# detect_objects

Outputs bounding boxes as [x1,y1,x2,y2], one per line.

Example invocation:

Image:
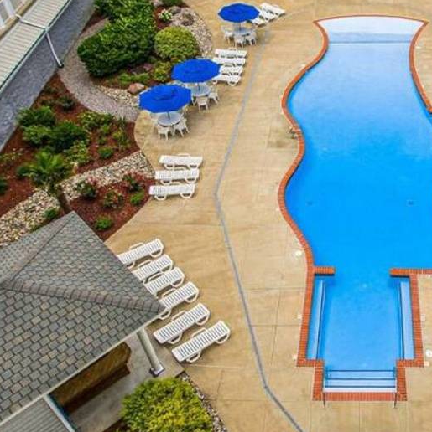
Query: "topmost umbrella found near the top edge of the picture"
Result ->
[218,2,260,33]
